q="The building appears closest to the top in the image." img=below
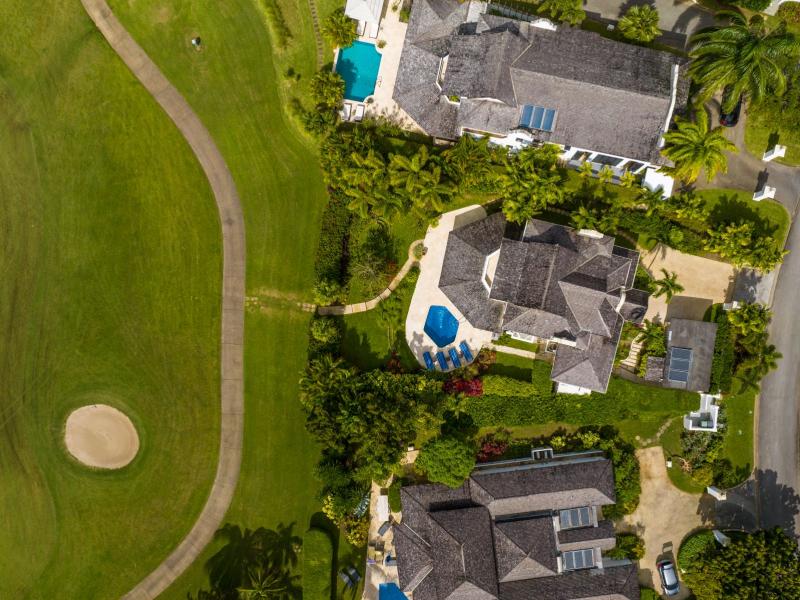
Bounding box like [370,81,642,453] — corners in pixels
[345,0,384,37]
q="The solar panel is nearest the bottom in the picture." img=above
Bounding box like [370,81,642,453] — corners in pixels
[563,551,594,570]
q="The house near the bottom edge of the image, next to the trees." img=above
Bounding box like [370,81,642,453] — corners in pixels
[393,459,641,600]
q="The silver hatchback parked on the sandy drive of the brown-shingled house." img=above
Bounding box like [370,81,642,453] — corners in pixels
[655,559,680,597]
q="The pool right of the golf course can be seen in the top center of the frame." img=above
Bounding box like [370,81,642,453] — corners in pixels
[332,38,384,103]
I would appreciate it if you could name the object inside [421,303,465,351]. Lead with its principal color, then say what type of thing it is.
blue swimming pool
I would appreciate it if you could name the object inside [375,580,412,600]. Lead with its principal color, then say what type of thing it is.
blue swimming pool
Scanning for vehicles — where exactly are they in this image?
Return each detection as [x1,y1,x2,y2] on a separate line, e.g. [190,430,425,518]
[655,559,680,597]
[720,89,741,124]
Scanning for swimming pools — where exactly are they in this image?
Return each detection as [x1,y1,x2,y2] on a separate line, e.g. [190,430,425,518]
[332,38,384,103]
[375,580,412,600]
[421,303,465,351]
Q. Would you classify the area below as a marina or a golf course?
golf course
